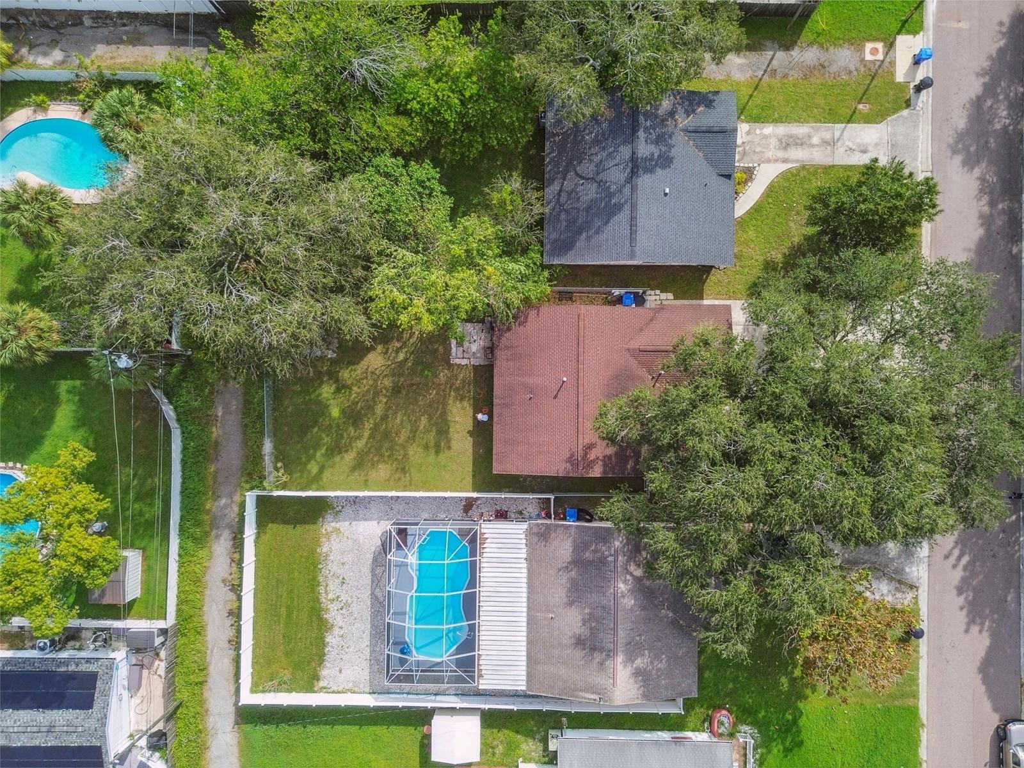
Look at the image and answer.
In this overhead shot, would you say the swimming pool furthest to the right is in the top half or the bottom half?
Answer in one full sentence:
You can find the swimming pool furthest to the right in the bottom half.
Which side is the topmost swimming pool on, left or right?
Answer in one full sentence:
It is on the left.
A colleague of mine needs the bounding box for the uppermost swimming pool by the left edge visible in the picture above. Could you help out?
[0,104,137,204]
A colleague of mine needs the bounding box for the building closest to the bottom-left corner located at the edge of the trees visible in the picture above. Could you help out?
[0,649,129,768]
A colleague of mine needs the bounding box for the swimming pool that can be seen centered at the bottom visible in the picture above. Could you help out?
[395,526,481,667]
